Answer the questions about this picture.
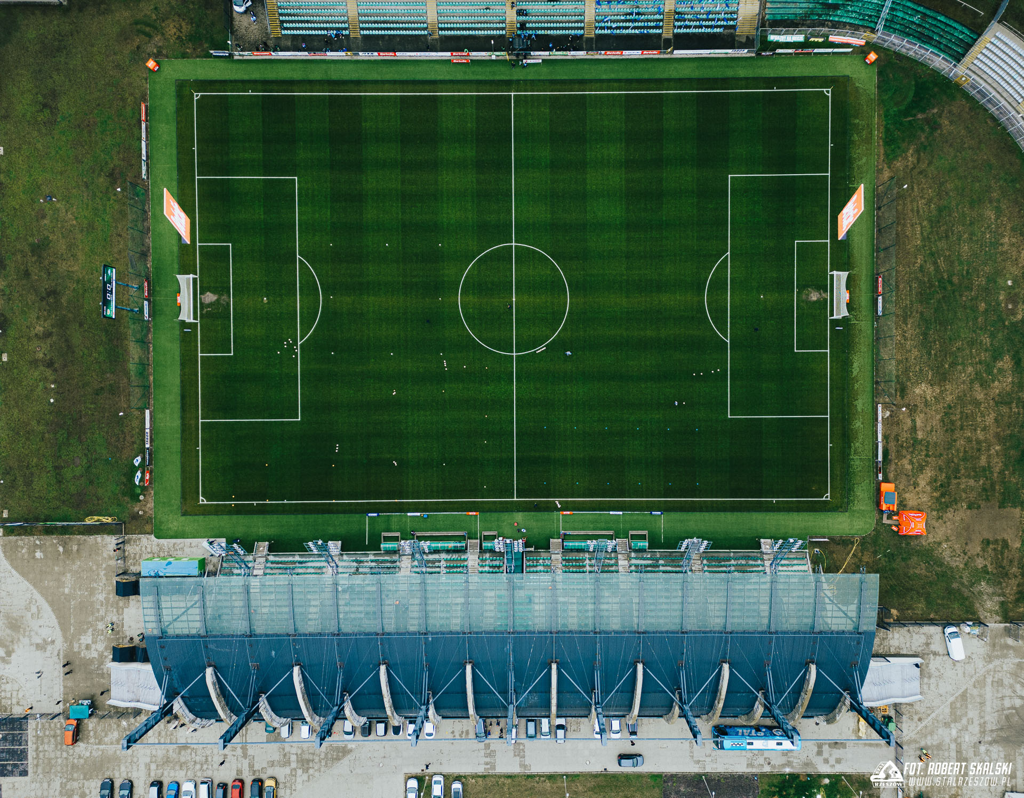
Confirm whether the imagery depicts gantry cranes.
No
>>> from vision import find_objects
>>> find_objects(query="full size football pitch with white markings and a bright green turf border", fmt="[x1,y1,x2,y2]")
[148,54,877,550]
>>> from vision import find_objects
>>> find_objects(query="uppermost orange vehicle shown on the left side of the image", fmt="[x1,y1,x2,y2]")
[63,719,79,745]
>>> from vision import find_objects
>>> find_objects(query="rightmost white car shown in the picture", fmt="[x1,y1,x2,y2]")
[943,627,965,660]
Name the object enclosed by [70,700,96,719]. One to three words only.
gazebo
